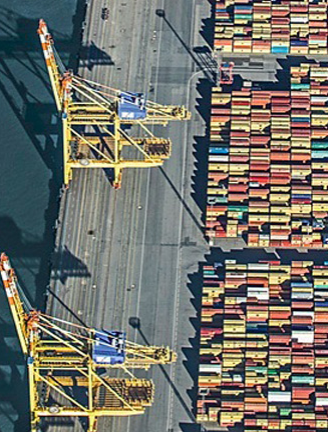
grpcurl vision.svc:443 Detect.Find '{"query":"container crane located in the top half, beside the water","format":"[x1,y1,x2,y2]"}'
[37,16,192,190]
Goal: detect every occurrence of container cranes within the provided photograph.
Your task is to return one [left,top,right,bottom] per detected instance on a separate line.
[37,16,192,190]
[0,247,179,432]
